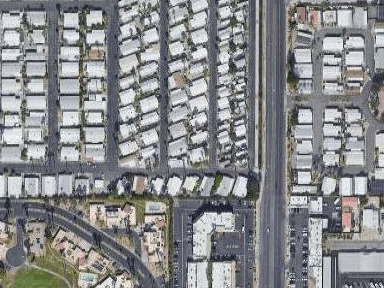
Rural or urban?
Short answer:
urban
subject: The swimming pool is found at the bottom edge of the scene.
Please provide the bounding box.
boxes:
[79,271,98,286]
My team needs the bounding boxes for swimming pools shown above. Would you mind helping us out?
[147,202,164,213]
[79,271,98,286]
